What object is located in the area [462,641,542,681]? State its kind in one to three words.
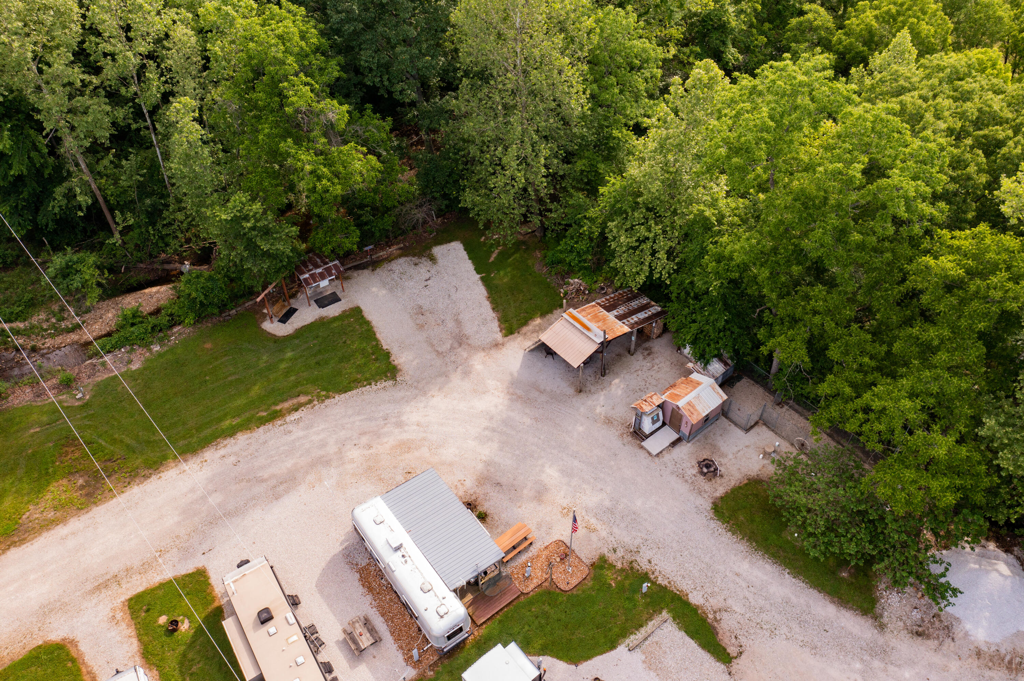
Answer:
trailer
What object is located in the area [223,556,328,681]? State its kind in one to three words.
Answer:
trailer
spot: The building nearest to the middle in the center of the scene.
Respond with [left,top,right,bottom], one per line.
[539,283,668,393]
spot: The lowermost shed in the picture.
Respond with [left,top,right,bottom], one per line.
[660,377,728,443]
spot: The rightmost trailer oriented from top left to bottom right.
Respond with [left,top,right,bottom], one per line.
[350,493,472,650]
